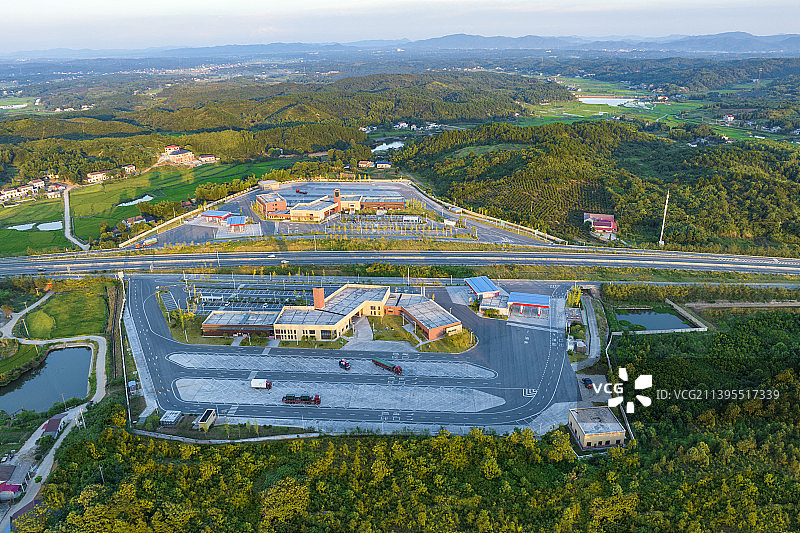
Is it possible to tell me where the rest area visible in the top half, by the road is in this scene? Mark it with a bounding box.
[134,182,551,243]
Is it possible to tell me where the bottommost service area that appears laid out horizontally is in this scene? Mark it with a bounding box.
[123,281,612,434]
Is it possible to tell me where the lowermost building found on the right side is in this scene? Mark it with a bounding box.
[565,407,628,449]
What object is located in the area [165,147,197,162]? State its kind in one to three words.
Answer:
house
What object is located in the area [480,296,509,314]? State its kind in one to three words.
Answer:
building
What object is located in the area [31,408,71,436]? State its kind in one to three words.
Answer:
house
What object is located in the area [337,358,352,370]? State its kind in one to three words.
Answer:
vehicle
